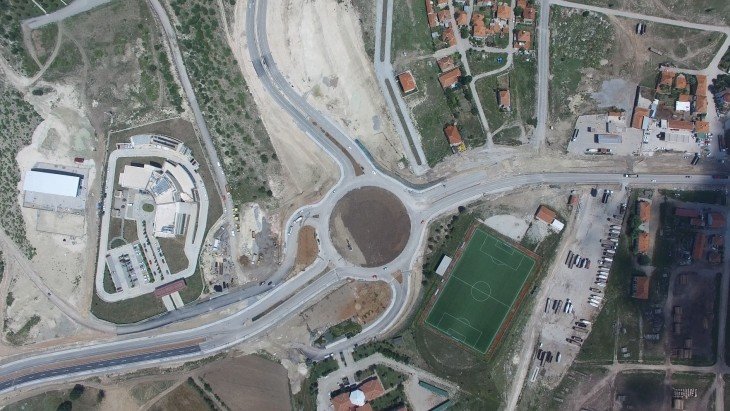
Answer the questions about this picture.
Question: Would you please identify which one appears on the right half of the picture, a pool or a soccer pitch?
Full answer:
There is a soccer pitch on the right half of the picture.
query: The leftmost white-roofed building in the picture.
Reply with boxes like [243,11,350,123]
[24,171,85,197]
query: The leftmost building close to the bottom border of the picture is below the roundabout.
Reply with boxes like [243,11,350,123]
[329,373,386,411]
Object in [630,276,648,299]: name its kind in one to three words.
barn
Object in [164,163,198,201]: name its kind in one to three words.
building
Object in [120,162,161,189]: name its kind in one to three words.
building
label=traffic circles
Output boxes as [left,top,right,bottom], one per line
[294,166,424,284]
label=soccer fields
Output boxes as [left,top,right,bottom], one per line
[420,218,538,360]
